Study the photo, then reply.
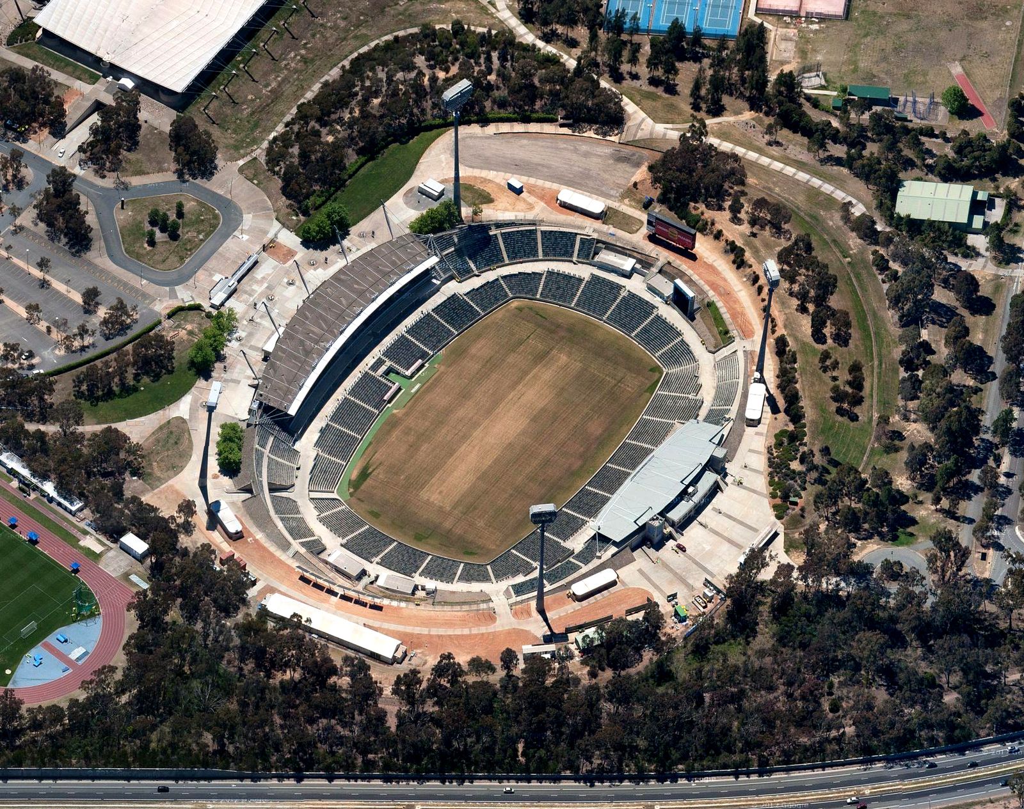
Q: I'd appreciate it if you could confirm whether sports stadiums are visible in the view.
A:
Yes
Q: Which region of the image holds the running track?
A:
bottom left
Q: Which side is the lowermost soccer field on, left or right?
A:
left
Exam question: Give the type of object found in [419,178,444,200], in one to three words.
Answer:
shed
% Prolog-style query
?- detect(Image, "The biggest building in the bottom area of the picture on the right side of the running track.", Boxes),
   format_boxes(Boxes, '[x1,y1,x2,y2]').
[267,593,402,665]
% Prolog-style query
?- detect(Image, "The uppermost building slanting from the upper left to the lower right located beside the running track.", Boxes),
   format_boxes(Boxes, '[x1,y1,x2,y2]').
[0,453,84,516]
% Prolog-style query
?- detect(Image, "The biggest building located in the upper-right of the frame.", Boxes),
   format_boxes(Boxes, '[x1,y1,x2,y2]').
[895,180,973,231]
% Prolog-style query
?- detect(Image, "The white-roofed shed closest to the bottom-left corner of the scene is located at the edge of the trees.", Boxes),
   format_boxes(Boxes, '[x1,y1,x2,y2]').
[119,532,150,562]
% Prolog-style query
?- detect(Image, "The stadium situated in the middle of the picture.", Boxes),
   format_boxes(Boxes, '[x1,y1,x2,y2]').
[225,202,751,611]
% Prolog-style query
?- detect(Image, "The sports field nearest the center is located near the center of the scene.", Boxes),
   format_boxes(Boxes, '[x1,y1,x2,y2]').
[337,299,665,563]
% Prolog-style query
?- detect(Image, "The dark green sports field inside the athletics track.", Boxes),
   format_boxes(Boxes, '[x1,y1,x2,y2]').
[0,521,102,688]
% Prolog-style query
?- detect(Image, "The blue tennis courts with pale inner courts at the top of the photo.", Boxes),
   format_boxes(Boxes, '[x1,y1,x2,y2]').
[604,0,744,39]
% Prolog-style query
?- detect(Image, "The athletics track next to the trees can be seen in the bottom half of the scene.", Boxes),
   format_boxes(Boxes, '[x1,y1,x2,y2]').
[0,495,132,707]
